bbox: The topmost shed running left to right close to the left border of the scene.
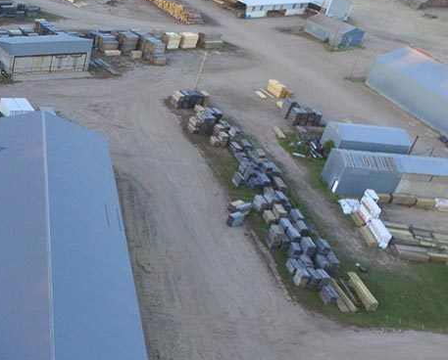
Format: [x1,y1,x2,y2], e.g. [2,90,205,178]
[0,32,93,75]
